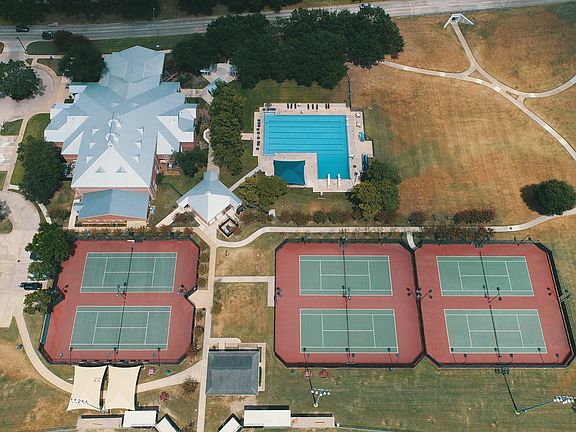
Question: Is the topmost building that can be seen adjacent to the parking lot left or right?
left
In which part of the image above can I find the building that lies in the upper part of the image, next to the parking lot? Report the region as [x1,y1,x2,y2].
[51,44,196,230]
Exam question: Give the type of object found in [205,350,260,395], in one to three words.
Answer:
building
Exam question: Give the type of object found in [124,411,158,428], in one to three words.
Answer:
shed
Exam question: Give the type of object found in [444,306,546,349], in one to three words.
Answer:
tennis court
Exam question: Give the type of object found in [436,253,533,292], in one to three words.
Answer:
tennis court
